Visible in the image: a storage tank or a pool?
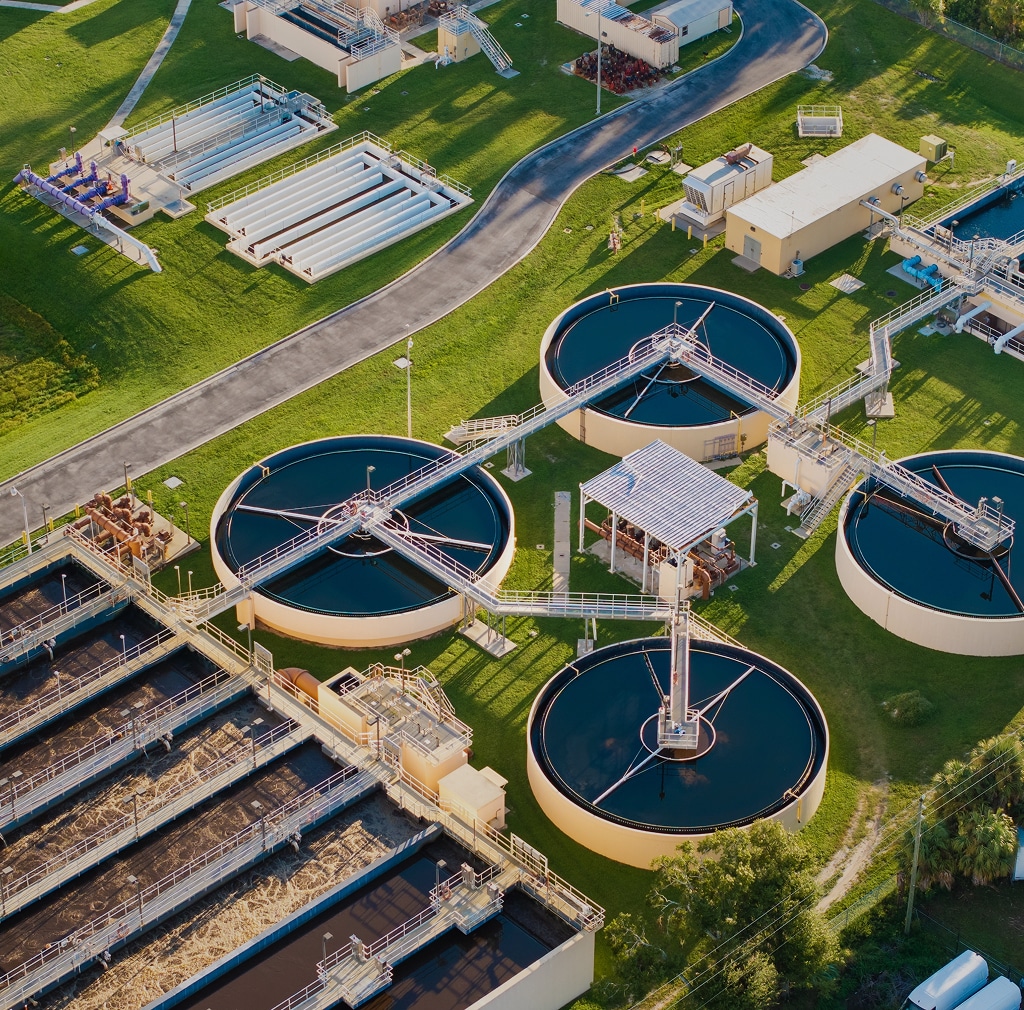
storage tank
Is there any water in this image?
Yes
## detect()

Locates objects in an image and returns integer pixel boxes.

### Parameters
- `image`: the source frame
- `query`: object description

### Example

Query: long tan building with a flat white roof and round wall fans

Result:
[725,134,928,276]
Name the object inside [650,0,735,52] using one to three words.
shed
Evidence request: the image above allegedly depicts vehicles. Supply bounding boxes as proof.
[903,953,990,1010]
[959,979,1021,1010]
